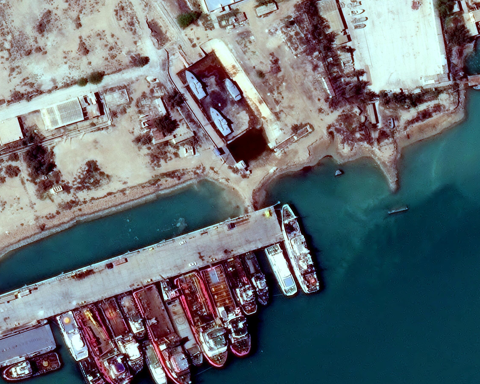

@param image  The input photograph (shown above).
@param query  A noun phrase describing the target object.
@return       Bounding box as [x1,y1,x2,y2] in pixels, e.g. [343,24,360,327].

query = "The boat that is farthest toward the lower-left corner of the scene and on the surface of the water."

[4,353,60,380]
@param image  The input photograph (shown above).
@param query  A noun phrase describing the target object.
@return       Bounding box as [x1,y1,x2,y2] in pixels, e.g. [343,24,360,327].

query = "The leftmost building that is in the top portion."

[0,117,24,144]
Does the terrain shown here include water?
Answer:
Yes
